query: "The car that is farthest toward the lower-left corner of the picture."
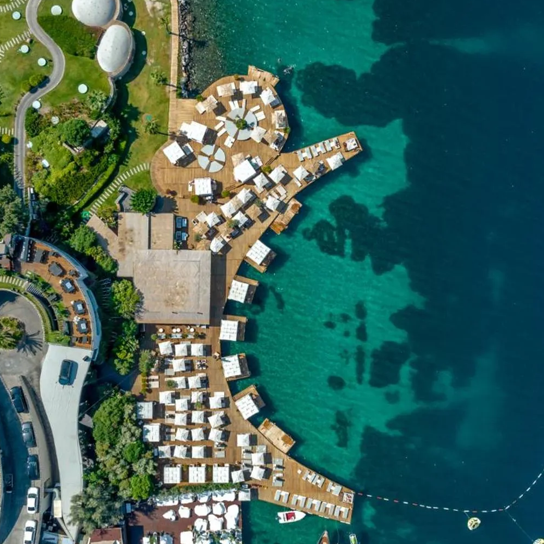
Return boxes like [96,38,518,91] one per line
[22,520,36,544]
